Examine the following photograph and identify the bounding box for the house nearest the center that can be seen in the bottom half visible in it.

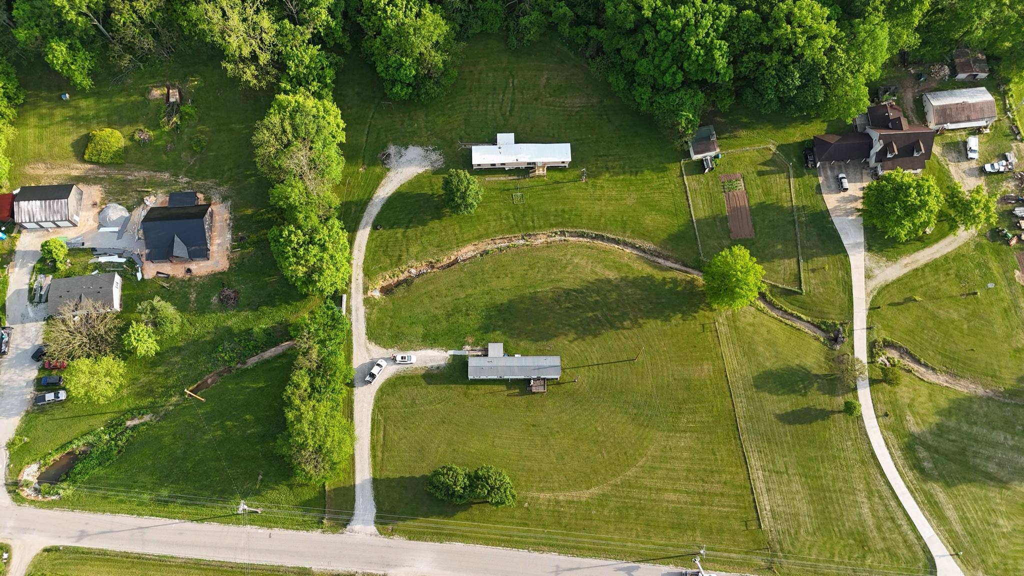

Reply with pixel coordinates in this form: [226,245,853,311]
[468,343,561,380]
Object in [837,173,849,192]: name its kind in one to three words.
vehicle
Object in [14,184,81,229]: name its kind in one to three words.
building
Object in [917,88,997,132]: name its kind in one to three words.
barn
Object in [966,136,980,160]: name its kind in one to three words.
vehicle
